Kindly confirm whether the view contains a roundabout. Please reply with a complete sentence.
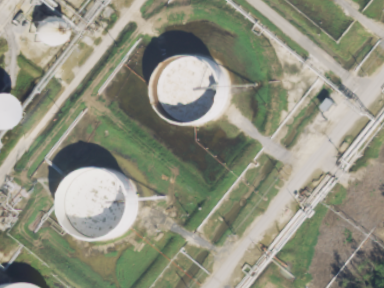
No, there isn't any roundabout down there.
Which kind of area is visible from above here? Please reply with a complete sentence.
This looks like an industrial area.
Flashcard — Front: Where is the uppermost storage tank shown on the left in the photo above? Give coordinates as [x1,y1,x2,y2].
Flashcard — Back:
[36,14,72,48]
